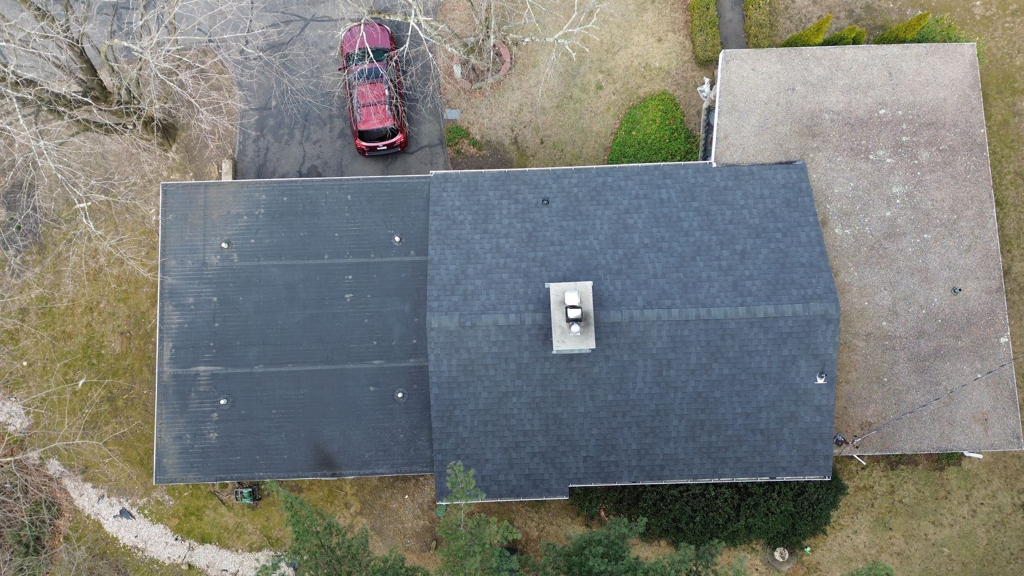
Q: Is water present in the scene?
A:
No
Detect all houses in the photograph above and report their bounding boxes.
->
[154,43,1024,506]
